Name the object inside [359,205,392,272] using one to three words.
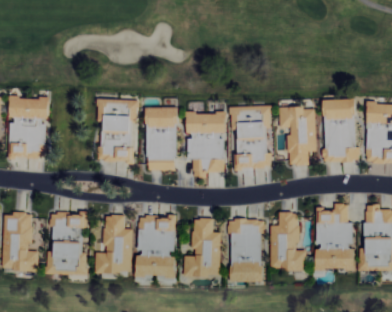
house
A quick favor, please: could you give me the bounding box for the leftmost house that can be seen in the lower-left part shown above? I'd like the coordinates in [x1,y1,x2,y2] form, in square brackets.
[2,212,39,273]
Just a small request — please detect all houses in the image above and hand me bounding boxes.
[96,98,139,165]
[359,205,392,272]
[229,107,272,174]
[228,218,266,283]
[44,210,88,277]
[279,106,318,166]
[322,99,362,162]
[134,214,177,280]
[2,212,39,273]
[8,96,50,158]
[94,214,133,277]
[366,100,392,164]
[270,212,307,273]
[183,218,222,278]
[144,106,178,172]
[315,203,357,272]
[186,112,226,177]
